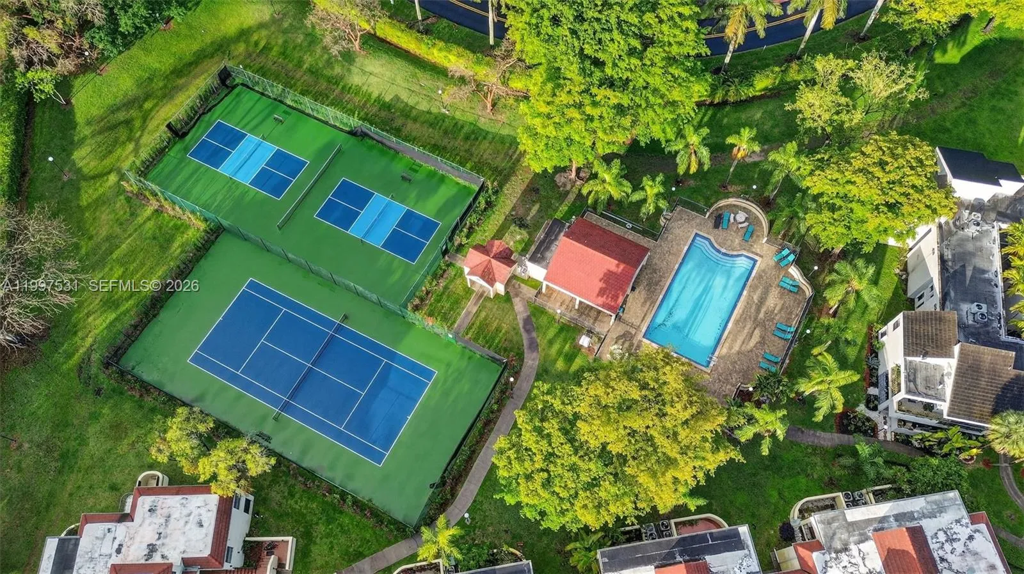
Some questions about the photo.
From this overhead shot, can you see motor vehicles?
No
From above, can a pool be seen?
Yes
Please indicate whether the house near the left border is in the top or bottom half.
bottom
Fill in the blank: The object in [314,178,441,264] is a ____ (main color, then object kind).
blue sports court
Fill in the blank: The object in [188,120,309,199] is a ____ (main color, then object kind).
blue sports court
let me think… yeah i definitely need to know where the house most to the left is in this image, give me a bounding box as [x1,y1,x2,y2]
[36,486,248,574]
